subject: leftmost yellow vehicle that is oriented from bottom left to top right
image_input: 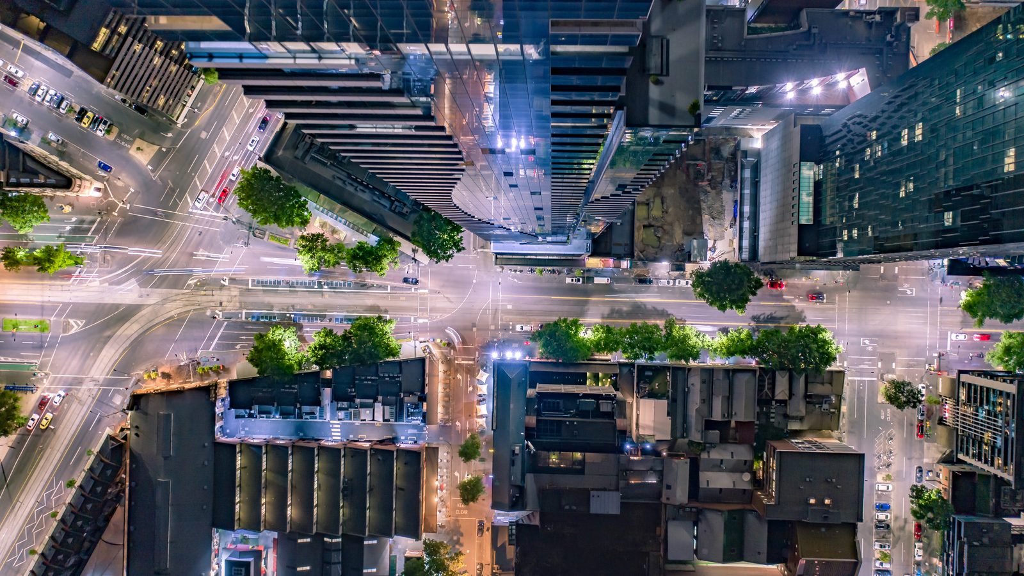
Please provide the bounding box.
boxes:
[40,413,53,429]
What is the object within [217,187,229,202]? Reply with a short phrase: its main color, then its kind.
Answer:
red vehicle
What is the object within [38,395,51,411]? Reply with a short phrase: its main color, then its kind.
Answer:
red vehicle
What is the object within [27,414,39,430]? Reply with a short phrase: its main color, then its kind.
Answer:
white vehicle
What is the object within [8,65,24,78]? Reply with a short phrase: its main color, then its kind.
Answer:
white vehicle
